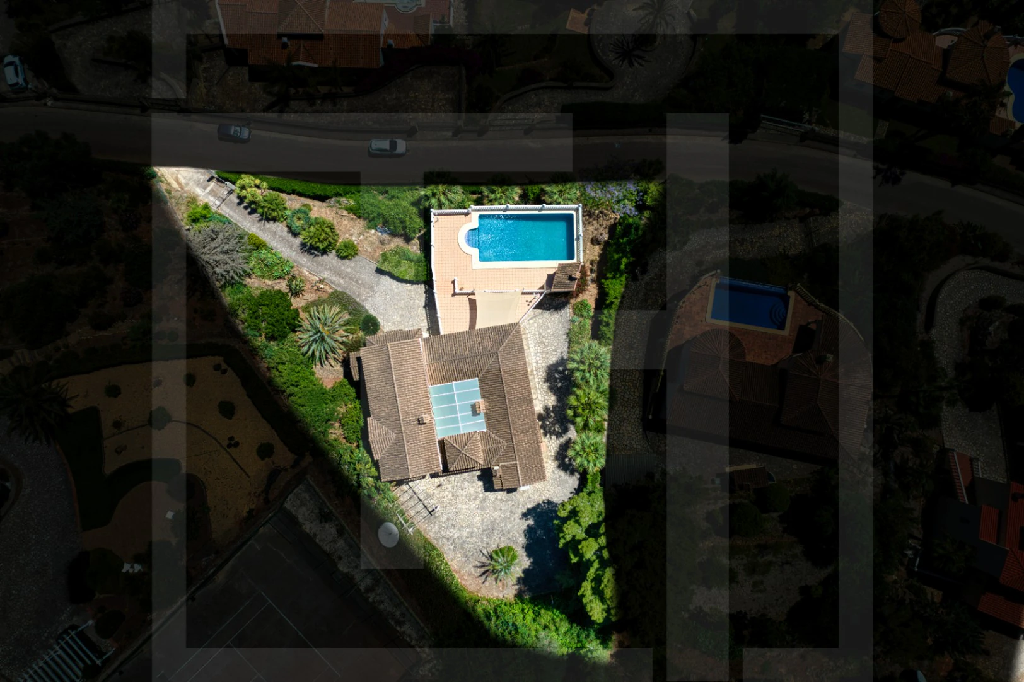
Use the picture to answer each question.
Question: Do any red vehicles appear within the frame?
No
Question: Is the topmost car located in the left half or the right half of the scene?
left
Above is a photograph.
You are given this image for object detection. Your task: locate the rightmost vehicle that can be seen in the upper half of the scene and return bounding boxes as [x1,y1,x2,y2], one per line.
[366,135,405,156]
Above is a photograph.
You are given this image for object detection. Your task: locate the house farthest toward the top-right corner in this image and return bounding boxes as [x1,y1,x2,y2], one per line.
[825,0,1015,138]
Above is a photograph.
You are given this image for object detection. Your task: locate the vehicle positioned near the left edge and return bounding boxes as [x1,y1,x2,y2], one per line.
[0,51,25,91]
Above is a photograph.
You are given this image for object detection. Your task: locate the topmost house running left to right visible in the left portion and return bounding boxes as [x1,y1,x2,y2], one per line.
[218,0,433,84]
